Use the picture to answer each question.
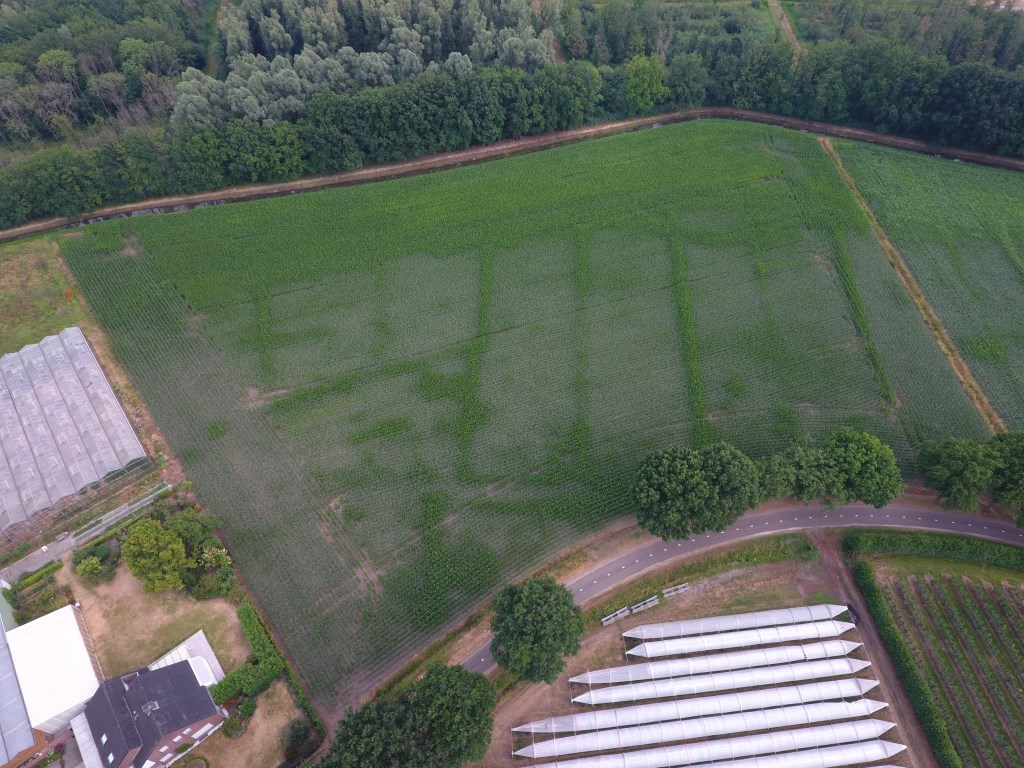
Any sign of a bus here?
No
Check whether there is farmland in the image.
Yes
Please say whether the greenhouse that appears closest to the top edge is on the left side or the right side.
left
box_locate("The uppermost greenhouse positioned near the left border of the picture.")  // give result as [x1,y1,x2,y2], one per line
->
[0,326,154,549]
